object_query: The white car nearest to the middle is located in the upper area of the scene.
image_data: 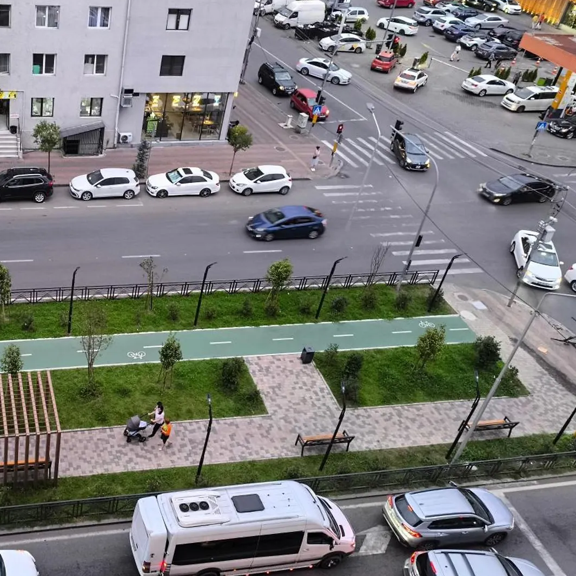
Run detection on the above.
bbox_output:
[227,163,294,195]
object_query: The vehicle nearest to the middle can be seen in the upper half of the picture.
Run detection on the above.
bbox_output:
[245,204,330,240]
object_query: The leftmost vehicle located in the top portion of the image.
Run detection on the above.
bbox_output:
[0,164,57,202]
